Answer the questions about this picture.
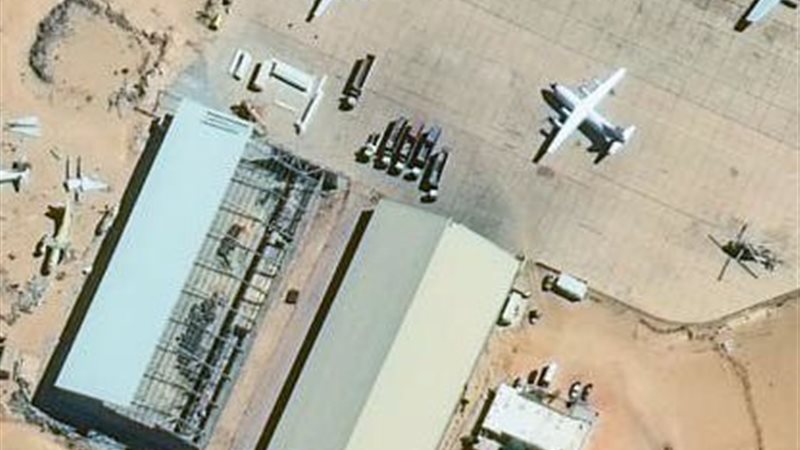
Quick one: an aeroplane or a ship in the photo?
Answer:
aeroplane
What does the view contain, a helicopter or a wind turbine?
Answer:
helicopter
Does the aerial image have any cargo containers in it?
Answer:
Yes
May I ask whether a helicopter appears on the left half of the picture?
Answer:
No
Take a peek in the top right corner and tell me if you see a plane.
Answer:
Yes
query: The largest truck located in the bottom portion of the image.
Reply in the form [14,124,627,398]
[545,277,589,298]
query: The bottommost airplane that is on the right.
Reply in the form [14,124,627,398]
[548,68,638,156]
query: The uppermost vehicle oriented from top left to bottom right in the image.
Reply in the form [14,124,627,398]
[202,8,220,29]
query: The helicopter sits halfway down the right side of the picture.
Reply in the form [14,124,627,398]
[723,218,786,276]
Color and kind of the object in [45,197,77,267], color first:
white airplane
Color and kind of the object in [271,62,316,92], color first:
white shipping container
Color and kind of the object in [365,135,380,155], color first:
white vehicle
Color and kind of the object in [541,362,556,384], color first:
white vehicle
